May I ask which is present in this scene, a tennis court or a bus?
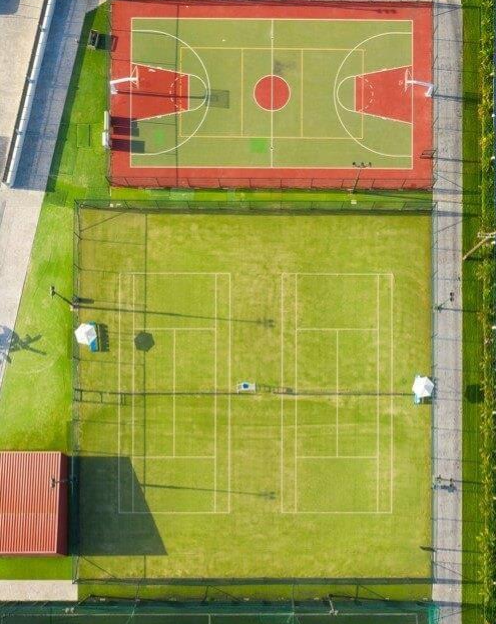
tennis court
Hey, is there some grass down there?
Yes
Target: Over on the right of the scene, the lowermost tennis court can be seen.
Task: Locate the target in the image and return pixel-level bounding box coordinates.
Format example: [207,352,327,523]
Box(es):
[282,273,392,513]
